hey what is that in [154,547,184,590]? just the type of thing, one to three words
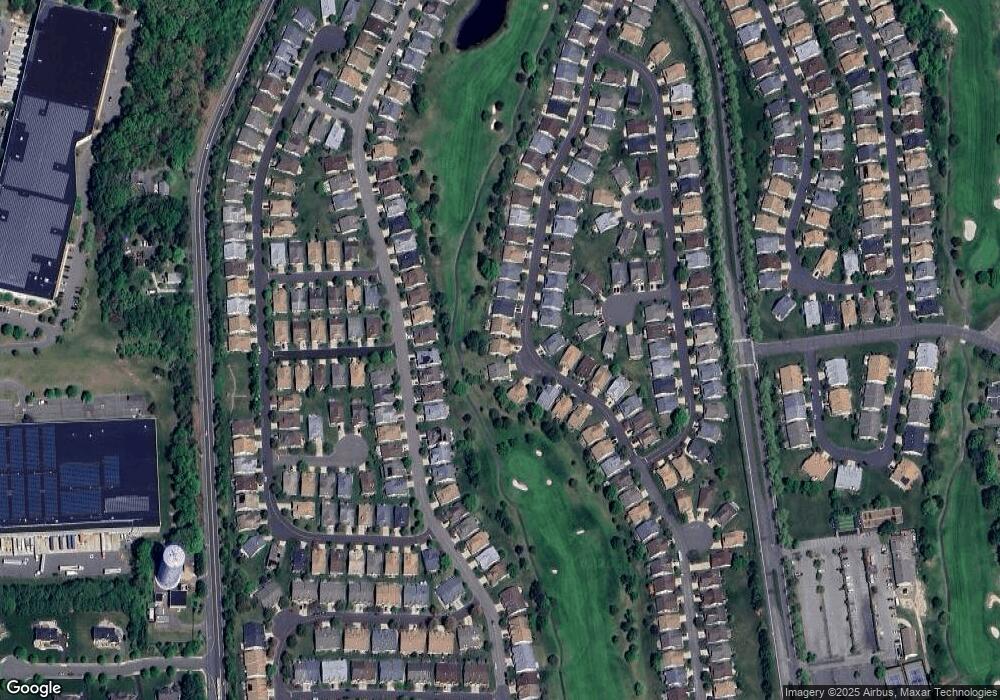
water tower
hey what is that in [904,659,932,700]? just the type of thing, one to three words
tennis court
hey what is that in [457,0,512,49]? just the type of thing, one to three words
pond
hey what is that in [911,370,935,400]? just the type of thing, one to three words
house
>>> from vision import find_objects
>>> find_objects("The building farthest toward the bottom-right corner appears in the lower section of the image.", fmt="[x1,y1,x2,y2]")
[900,628,917,660]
